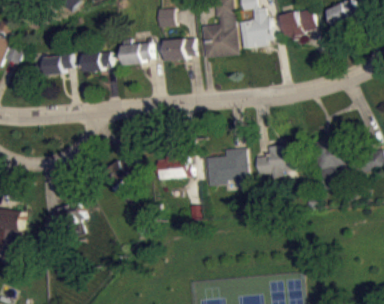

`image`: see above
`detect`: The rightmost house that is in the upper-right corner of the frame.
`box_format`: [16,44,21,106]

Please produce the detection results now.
[324,0,361,23]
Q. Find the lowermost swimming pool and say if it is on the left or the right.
left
